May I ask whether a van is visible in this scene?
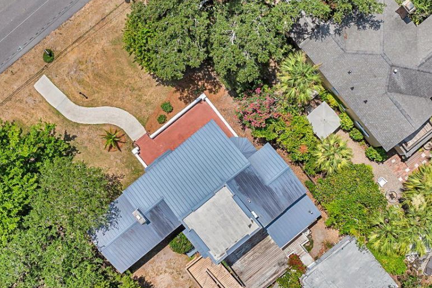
No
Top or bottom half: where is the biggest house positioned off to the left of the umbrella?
bottom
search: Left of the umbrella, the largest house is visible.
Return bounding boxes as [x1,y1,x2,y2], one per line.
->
[89,119,321,271]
